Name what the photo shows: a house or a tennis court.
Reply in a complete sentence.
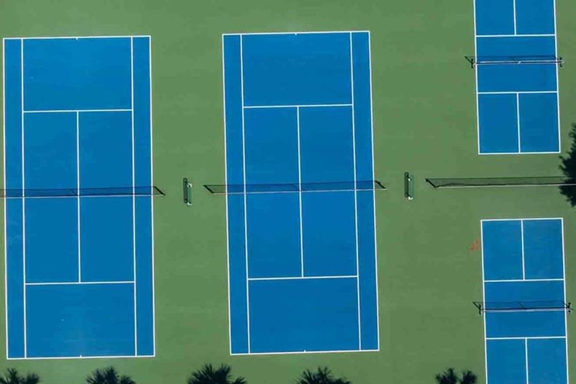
This aerial view contains a tennis court.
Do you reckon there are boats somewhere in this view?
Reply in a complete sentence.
No, no boat is visible in the scene.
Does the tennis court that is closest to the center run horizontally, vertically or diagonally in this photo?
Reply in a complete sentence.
The tennis court that is closest to the center is oriented vertically.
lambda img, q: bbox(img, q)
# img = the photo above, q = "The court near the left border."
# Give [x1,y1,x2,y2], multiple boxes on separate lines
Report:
[2,35,156,360]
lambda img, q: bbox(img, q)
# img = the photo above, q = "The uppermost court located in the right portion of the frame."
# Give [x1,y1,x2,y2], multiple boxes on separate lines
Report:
[474,0,560,154]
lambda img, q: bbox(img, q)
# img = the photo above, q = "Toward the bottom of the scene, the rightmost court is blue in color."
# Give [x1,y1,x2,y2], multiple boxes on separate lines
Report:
[482,218,568,384]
